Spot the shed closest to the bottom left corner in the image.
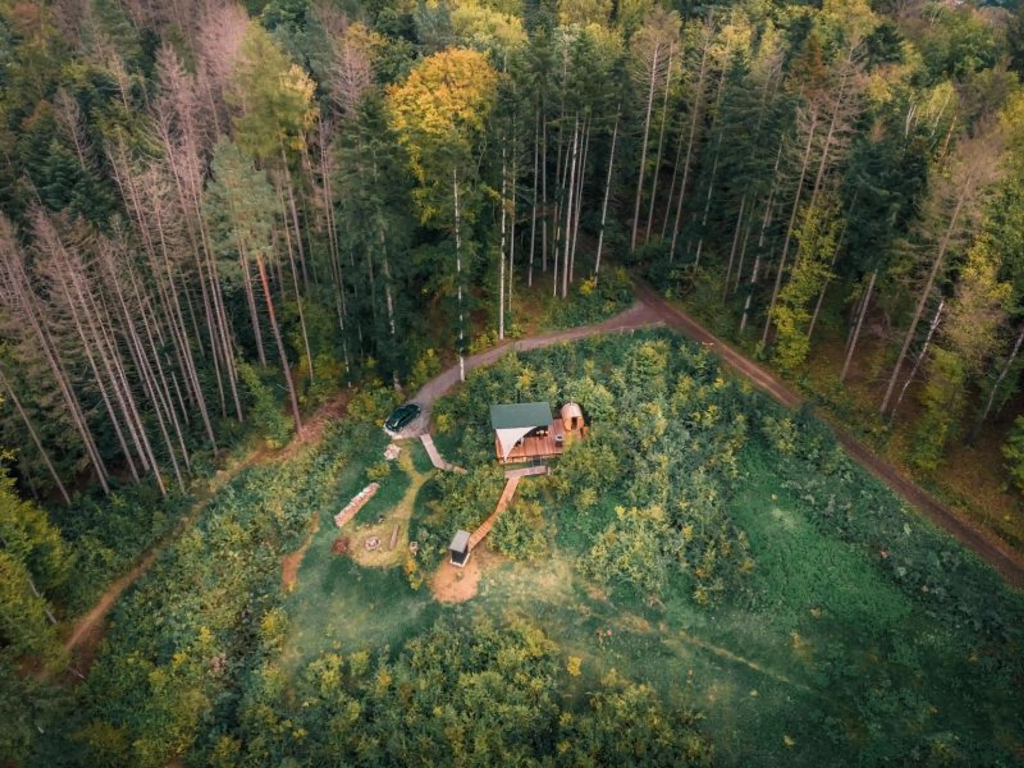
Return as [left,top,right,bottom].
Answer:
[448,522,475,565]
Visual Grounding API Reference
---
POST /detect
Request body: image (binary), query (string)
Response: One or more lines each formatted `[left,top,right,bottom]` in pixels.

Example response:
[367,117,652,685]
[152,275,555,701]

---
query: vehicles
[382,401,426,432]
